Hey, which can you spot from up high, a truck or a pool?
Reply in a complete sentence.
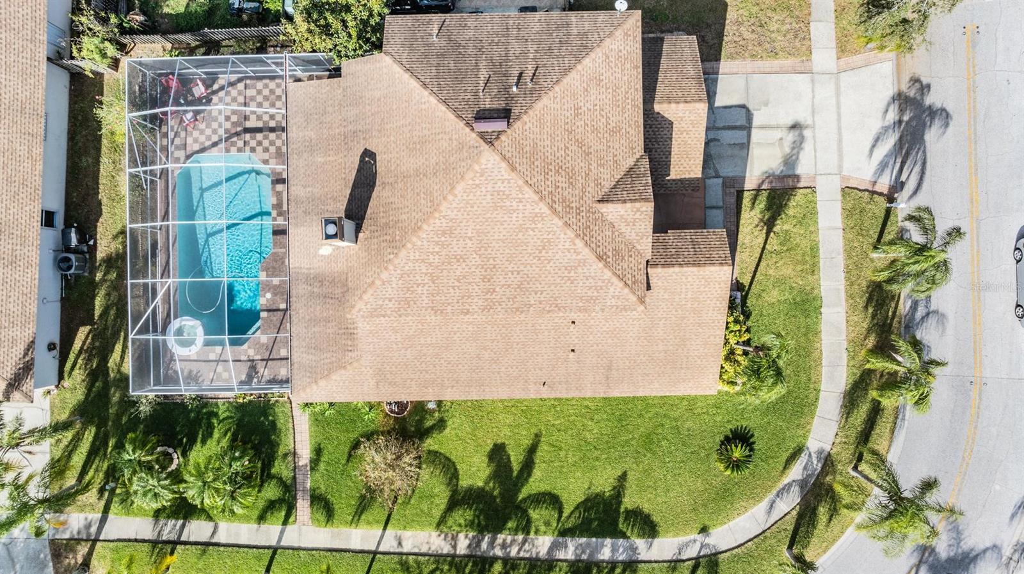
It is a pool that can be seen here.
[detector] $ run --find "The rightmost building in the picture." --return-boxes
[286,0,732,404]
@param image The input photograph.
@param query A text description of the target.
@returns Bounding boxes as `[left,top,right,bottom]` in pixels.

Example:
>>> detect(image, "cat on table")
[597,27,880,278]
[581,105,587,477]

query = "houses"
[0,0,71,403]
[286,0,732,404]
